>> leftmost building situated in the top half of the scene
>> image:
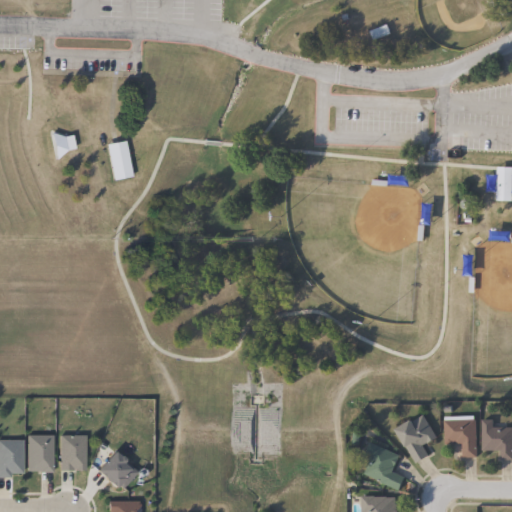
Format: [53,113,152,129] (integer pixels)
[52,132,77,159]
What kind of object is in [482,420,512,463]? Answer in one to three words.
house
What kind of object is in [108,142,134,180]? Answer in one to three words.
barn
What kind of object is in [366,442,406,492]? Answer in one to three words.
house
